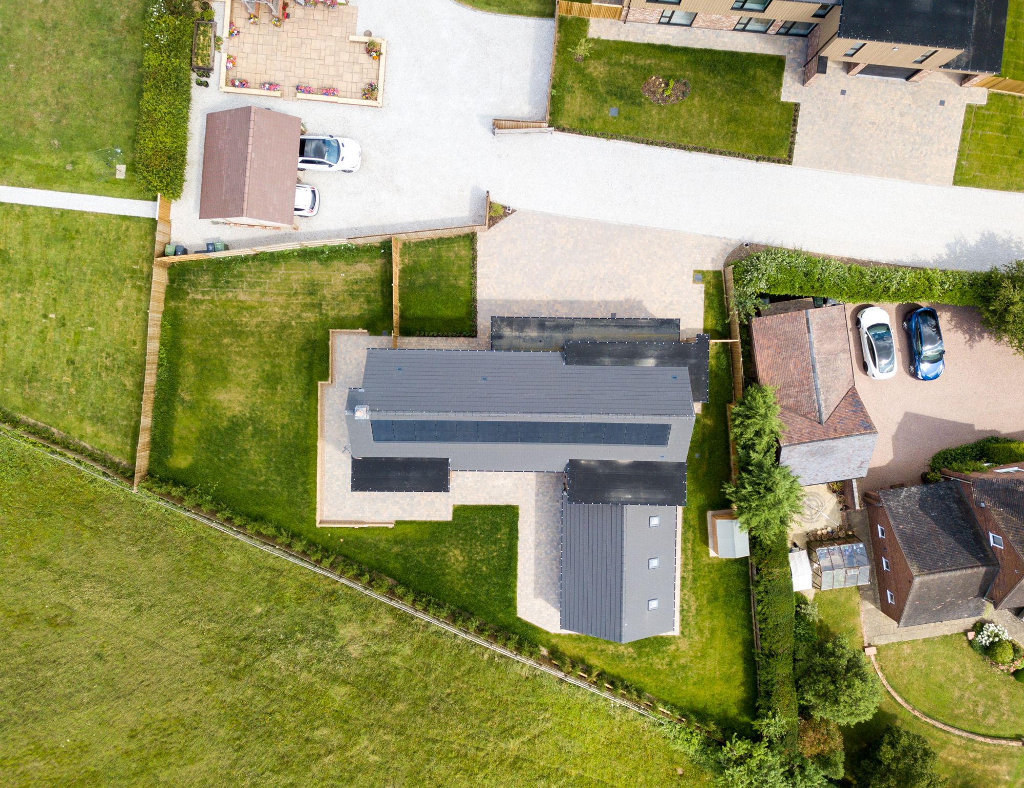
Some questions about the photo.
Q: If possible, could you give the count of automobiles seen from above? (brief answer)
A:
4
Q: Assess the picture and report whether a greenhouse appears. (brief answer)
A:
Yes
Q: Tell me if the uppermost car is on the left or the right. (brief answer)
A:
left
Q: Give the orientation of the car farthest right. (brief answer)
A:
vertically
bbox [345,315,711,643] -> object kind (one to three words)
house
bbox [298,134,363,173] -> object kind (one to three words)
car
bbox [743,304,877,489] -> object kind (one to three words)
building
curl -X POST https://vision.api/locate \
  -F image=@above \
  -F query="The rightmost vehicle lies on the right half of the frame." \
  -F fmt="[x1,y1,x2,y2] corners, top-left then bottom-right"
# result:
[905,306,949,381]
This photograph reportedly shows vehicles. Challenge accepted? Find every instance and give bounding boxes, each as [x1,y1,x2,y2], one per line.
[905,306,949,381]
[856,306,895,381]
[298,134,363,173]
[294,185,323,218]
